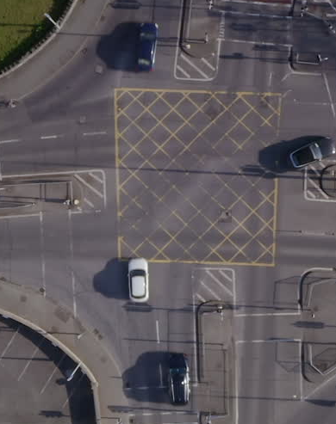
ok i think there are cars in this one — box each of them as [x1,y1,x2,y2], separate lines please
[127,258,150,301]
[136,23,158,71]
[288,137,336,168]
[167,354,190,405]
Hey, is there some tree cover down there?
No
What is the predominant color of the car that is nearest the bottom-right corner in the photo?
black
